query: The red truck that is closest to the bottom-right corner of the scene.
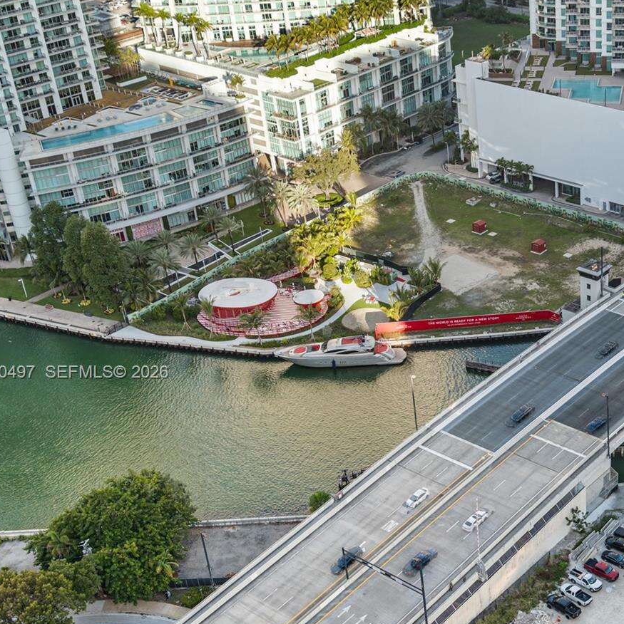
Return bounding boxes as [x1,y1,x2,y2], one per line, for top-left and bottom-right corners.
[584,558,620,581]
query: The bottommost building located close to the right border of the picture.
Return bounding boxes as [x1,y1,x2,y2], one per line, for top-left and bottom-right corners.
[562,255,613,325]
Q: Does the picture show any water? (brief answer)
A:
Yes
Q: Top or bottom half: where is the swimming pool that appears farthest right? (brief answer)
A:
top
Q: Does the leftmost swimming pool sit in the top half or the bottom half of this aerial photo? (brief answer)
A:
top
